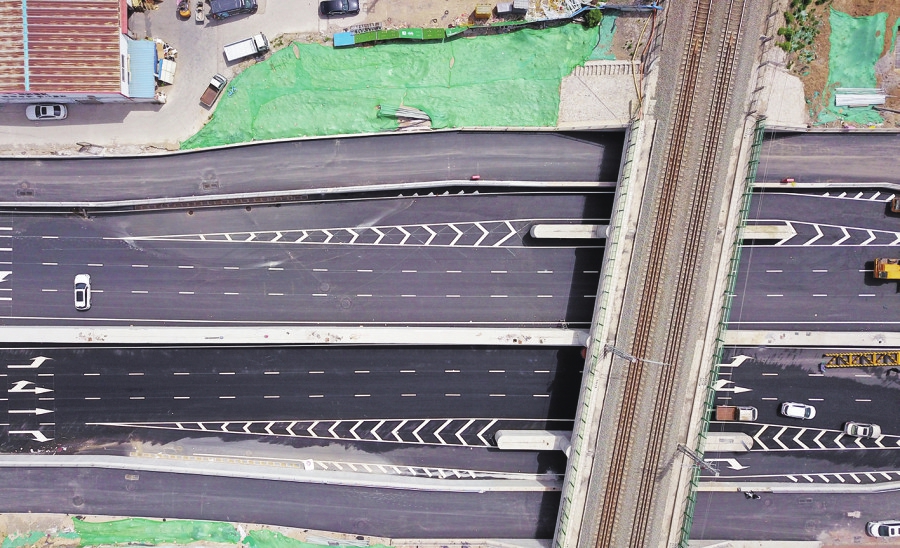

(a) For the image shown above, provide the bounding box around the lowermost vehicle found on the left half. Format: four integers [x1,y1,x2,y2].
[73,274,94,310]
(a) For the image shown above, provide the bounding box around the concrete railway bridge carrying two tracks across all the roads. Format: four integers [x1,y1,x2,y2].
[541,0,763,548]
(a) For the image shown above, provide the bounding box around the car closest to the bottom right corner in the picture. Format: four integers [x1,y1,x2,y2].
[865,518,900,538]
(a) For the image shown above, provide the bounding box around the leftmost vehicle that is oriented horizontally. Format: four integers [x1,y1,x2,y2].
[28,104,69,121]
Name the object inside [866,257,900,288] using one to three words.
truck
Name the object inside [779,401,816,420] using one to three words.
car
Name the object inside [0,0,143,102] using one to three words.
building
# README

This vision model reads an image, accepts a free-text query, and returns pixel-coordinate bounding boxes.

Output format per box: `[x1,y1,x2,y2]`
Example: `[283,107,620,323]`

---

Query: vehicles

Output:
[73,274,94,310]
[205,0,260,23]
[200,74,228,108]
[715,405,758,423]
[865,518,900,538]
[28,104,69,121]
[779,401,816,420]
[321,0,359,15]
[866,257,900,288]
[221,31,274,63]
[842,420,881,438]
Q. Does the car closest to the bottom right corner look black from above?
No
